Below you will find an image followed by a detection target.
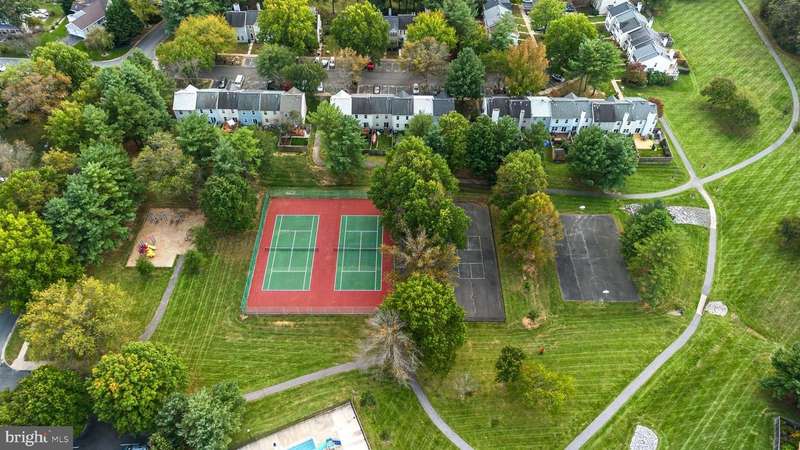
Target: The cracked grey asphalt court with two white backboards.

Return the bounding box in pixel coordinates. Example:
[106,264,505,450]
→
[544,213,637,301]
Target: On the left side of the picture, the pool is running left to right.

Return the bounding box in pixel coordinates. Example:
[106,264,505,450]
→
[238,403,370,450]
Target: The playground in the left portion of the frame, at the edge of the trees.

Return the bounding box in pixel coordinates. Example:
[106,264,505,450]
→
[126,207,207,267]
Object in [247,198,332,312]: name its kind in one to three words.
tennis court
